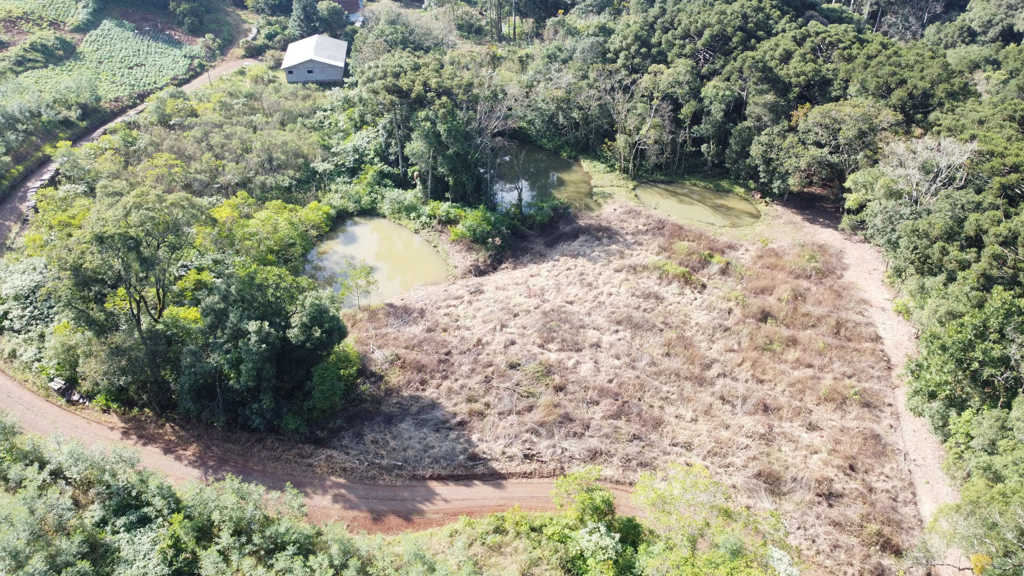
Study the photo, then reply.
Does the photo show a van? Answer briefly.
No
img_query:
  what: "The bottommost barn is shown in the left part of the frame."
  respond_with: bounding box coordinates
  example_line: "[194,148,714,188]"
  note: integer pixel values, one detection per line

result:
[278,34,345,85]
